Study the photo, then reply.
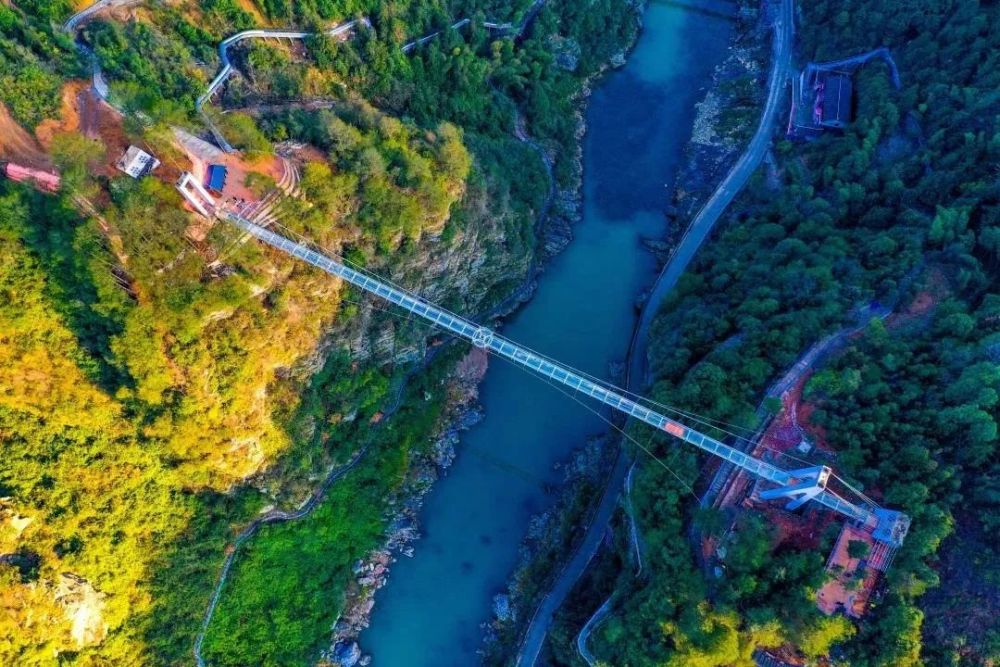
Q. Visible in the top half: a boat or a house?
house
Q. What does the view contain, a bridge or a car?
bridge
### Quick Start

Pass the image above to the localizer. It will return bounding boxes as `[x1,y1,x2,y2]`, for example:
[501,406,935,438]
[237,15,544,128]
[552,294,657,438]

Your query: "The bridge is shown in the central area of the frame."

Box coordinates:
[147,169,872,529]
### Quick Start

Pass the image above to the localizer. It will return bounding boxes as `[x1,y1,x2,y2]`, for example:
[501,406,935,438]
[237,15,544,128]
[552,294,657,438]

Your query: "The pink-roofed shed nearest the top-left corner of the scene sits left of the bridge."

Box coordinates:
[6,163,68,198]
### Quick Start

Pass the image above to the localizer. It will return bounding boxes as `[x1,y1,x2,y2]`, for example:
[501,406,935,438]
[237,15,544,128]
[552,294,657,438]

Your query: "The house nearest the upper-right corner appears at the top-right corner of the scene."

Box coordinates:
[811,73,851,126]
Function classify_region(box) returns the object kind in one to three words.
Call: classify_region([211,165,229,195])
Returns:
shed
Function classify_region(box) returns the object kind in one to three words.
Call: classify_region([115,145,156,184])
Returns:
building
